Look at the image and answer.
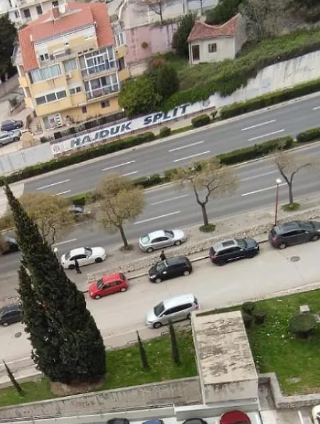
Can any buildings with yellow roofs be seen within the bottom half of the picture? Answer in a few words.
No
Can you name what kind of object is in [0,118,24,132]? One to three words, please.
vehicle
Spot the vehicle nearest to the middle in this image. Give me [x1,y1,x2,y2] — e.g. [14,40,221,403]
[139,229,187,251]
